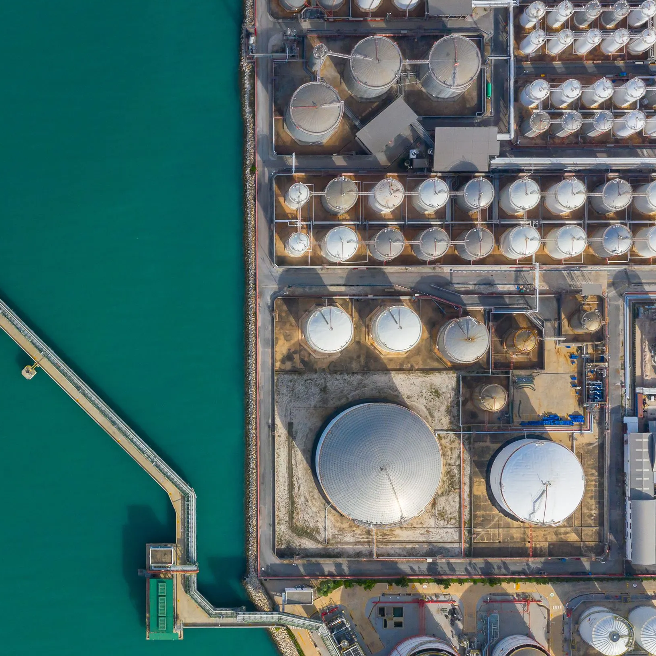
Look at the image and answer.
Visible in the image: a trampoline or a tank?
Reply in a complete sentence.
Visible in the photo is a tank.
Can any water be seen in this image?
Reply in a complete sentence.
Yes, there is water in the image.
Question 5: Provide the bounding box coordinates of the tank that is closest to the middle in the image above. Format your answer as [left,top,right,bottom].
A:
[300,301,354,356]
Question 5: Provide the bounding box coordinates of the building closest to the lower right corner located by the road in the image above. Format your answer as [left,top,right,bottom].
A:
[625,498,656,565]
